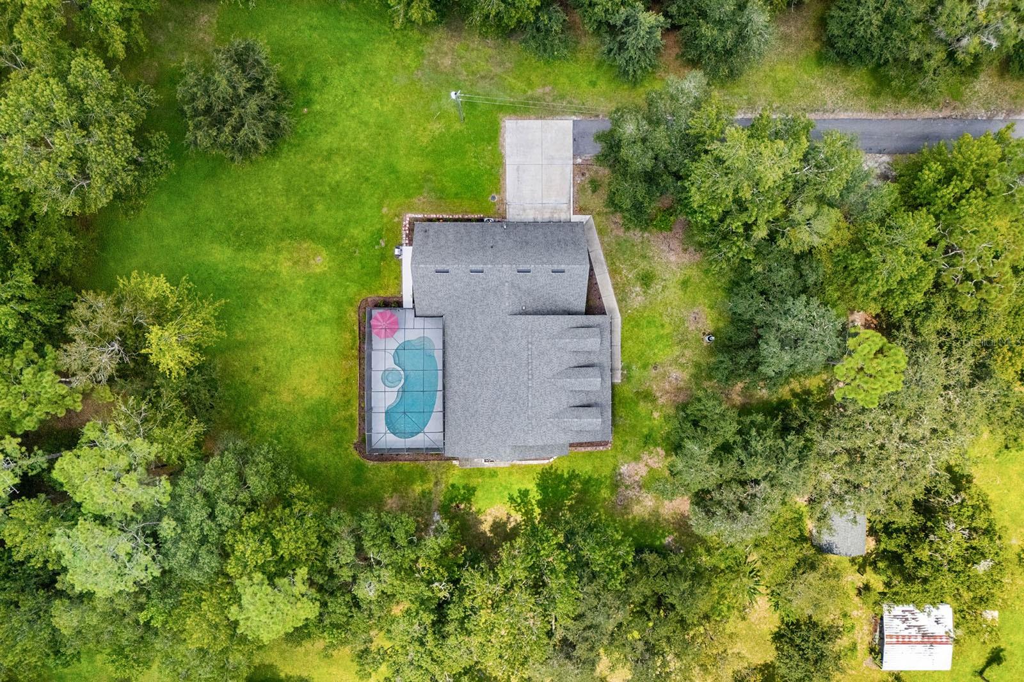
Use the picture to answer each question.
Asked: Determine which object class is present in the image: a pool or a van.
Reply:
pool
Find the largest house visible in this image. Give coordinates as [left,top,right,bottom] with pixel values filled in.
[411,221,613,460]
